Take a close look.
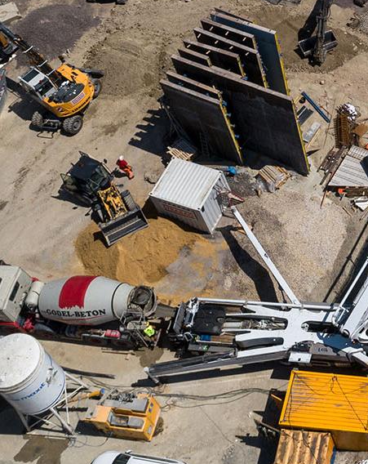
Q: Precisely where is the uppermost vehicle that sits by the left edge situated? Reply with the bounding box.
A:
[0,27,107,144]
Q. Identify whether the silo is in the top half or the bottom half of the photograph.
bottom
